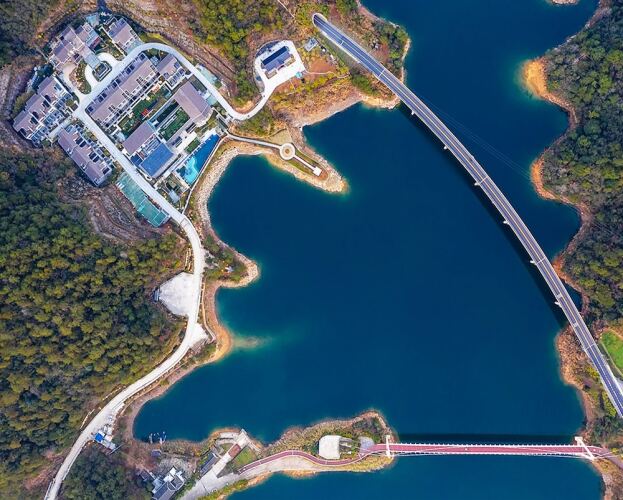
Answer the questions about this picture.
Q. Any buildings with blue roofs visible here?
Yes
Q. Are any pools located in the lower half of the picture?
No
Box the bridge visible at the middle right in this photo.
[306,7,623,424]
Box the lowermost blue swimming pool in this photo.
[178,133,222,186]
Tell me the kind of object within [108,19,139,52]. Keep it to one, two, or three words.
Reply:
house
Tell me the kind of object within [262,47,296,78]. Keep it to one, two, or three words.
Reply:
building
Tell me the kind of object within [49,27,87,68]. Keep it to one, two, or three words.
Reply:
house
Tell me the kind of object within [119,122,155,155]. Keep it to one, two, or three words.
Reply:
building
